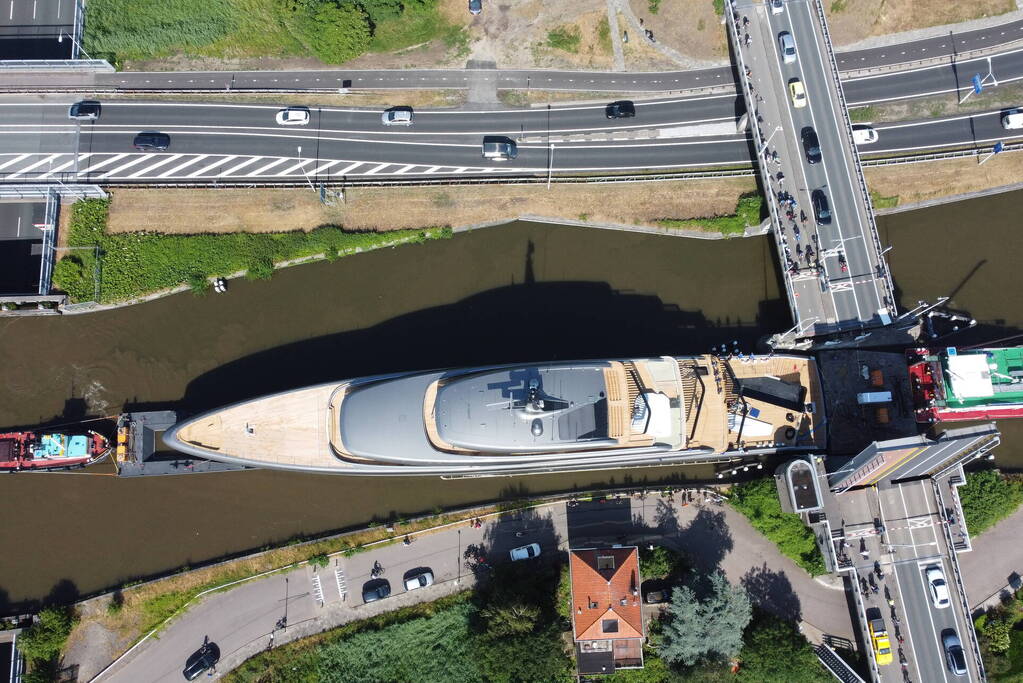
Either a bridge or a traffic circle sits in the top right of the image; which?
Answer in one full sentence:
The feature located in the top right of the image is a bridge.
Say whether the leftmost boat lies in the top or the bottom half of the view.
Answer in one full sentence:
The bottom half of the photo is where the leftmost boat is.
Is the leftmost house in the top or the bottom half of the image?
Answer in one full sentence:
The leftmost house is in the bottom half of the image.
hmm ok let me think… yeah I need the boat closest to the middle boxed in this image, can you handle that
[163,352,830,480]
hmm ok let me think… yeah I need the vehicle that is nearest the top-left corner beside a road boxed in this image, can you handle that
[69,103,103,121]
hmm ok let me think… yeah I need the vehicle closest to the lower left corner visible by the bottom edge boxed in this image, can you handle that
[179,641,224,683]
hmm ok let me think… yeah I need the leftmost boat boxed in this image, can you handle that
[0,430,115,476]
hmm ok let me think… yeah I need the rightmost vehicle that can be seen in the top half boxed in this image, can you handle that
[999,109,1023,130]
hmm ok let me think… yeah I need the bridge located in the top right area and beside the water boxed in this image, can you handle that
[725,0,918,356]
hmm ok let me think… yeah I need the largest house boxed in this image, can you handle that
[569,544,644,673]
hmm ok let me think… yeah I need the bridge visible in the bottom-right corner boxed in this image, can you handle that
[758,457,995,683]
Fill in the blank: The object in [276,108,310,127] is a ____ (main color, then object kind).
white car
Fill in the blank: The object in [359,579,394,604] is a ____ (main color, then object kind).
black car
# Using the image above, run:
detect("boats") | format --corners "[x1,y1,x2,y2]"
[903,344,1023,424]
[163,352,830,480]
[0,430,115,476]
